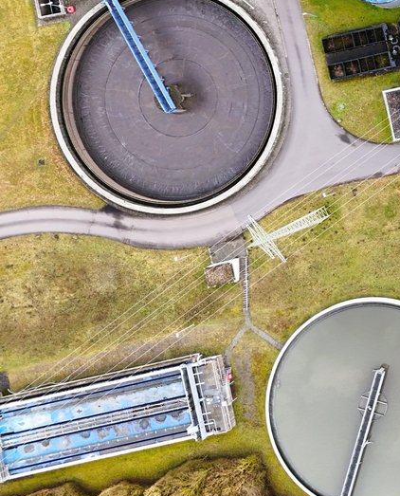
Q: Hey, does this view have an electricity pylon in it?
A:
Yes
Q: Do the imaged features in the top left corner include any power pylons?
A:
No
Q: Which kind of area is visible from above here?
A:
industrial area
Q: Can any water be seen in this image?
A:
Yes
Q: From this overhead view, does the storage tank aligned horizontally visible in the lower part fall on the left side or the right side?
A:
left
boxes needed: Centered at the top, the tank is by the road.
[51,0,283,214]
